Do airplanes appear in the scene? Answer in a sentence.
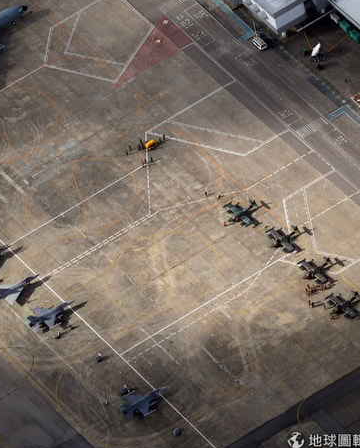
Yes, this view includes an airplane.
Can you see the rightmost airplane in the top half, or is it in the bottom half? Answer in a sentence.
Seen from above, the rightmost airplane lies in the bottom half of the view.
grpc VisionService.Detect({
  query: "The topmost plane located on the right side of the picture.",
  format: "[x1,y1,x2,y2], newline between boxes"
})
[222,200,256,228]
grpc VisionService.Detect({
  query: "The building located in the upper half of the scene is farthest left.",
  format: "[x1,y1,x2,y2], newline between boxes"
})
[236,0,308,35]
